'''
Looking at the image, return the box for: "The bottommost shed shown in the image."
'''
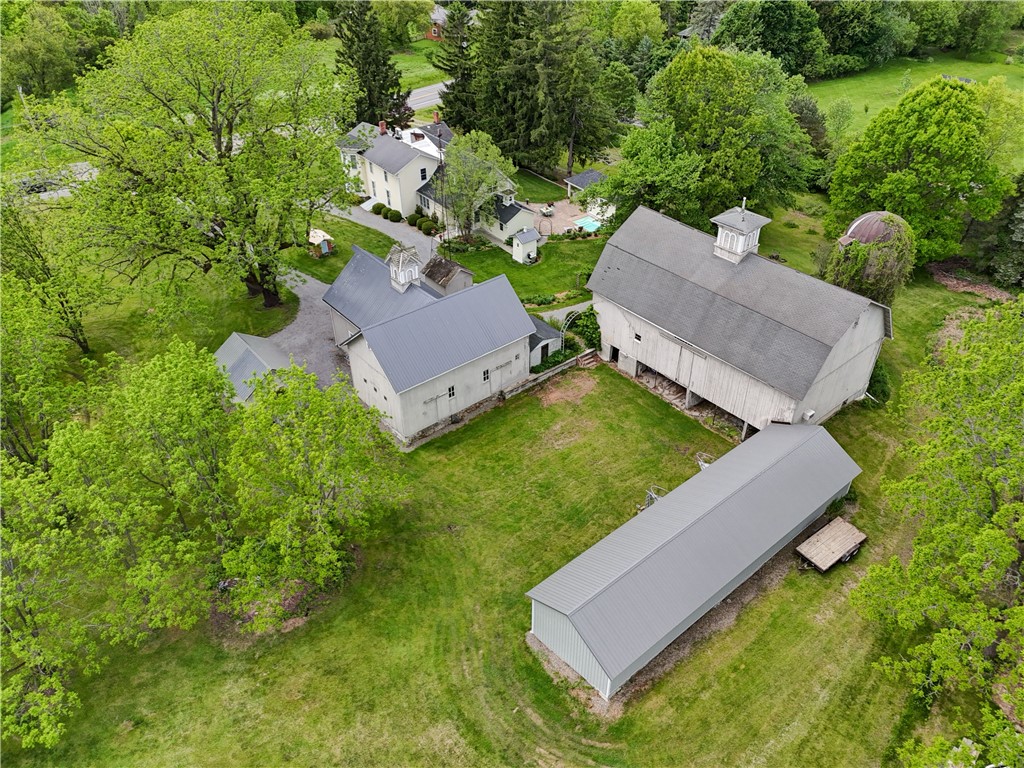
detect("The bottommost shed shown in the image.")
[525,423,857,705]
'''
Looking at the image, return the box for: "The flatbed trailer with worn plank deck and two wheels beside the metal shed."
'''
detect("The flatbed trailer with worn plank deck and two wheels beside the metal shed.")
[796,516,867,572]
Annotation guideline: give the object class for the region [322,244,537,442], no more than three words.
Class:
barn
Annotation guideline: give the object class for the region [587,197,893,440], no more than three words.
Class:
barn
